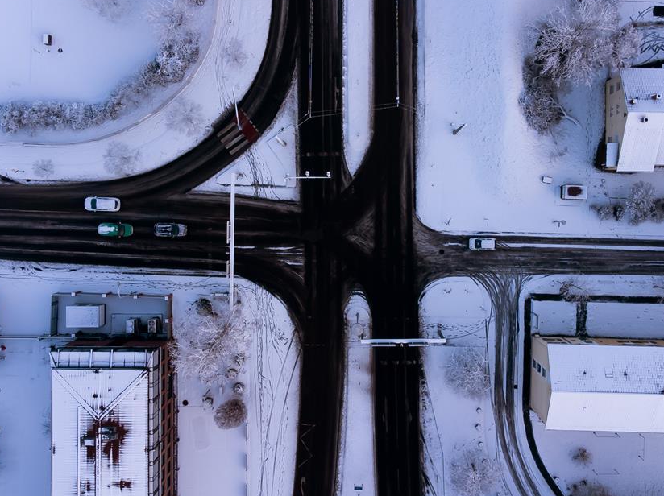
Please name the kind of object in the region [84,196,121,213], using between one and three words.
car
